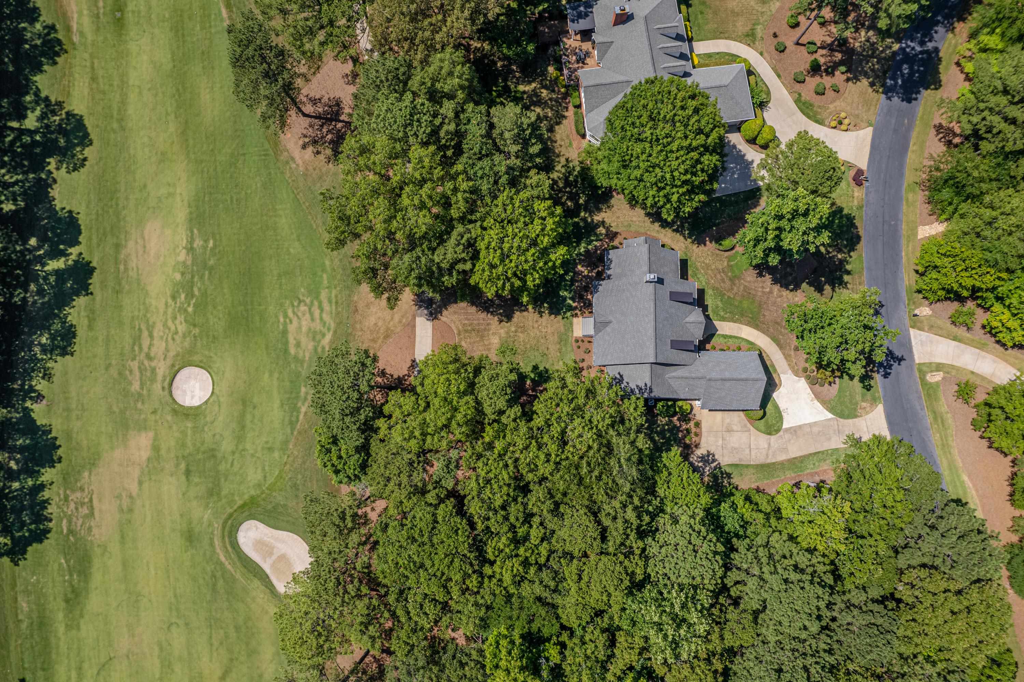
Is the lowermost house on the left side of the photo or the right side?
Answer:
right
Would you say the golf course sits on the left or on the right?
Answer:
left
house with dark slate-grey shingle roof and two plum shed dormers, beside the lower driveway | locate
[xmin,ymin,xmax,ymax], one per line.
[593,237,767,410]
